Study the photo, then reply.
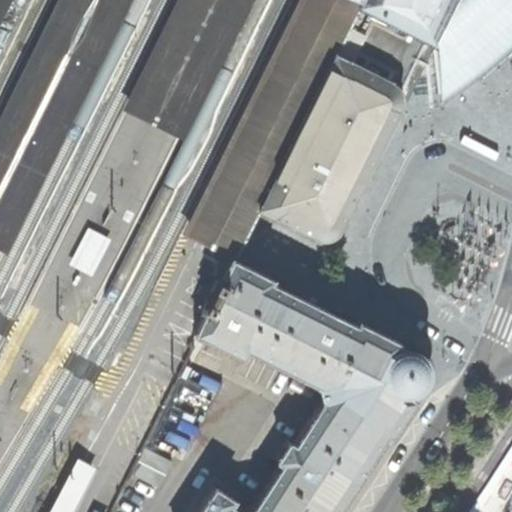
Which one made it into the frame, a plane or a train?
train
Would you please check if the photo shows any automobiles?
Yes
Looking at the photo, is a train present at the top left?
Yes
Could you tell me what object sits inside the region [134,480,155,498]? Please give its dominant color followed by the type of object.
white car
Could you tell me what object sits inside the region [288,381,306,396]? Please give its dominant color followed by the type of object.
white vehicle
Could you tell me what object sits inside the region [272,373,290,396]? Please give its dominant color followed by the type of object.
white vehicle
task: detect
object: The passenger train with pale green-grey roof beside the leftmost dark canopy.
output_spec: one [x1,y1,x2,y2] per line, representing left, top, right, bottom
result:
[68,0,148,140]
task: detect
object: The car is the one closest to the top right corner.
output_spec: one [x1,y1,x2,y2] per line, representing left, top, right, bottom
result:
[424,146,446,158]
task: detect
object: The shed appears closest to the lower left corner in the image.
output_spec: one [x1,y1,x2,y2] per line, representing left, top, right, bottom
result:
[50,458,96,512]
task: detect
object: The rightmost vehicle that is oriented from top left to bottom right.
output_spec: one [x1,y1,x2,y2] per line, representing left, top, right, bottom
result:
[442,337,465,356]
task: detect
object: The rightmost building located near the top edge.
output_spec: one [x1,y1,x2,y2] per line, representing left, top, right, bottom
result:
[437,0,512,103]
